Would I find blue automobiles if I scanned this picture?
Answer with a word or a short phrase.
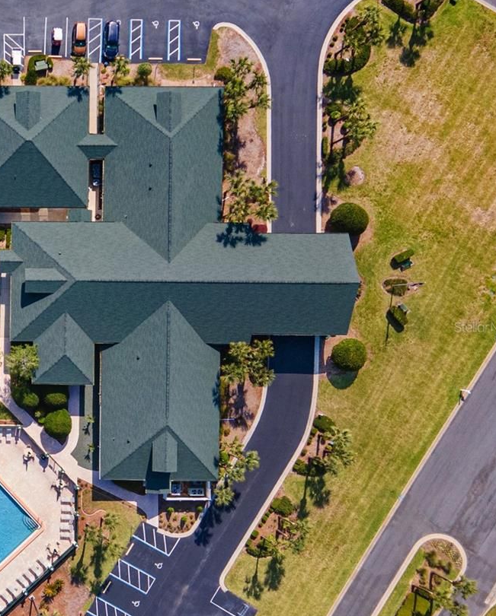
Yes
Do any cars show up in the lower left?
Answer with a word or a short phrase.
No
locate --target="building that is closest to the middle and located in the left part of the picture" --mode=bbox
[0,86,360,492]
